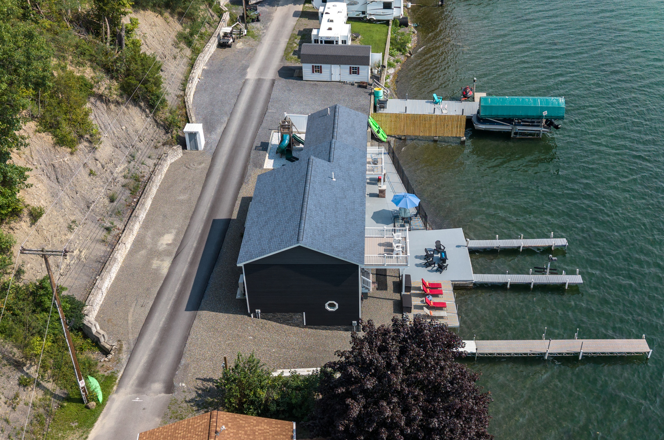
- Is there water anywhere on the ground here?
Yes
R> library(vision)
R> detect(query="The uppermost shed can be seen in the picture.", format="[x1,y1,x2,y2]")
[301,47,372,82]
